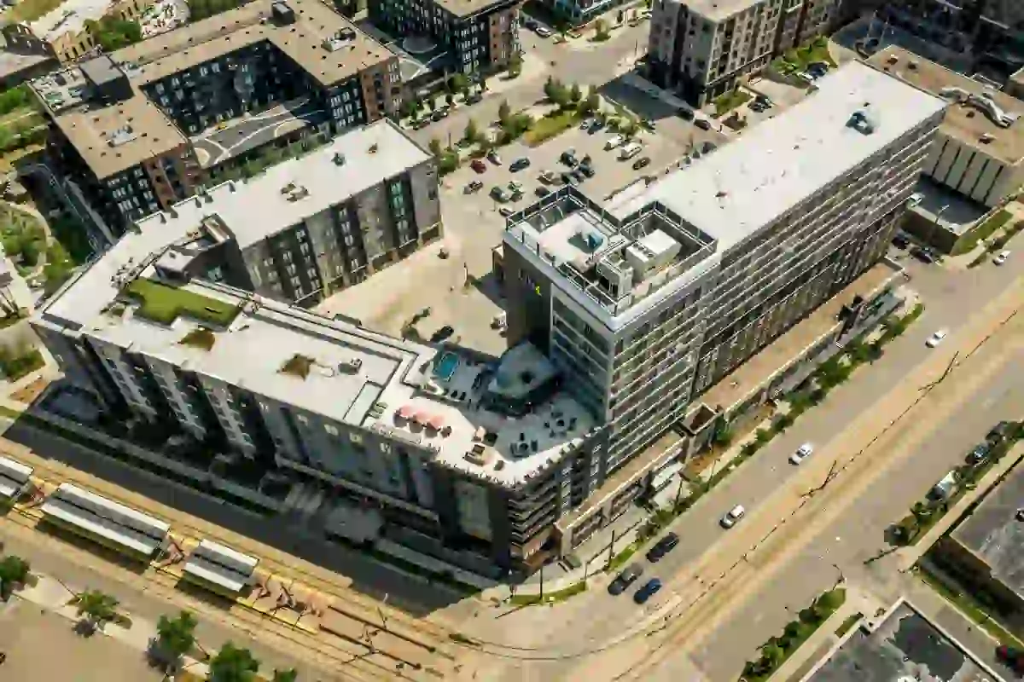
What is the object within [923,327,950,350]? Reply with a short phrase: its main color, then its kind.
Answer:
white car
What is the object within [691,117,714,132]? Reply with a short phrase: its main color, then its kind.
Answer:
gray car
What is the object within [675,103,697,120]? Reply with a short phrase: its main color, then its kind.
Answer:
black car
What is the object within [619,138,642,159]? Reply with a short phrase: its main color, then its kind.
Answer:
white vehicle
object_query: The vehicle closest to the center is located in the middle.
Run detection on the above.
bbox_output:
[486,305,507,334]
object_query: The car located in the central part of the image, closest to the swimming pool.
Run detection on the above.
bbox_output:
[430,321,456,346]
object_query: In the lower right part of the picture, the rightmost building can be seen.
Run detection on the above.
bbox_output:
[933,461,1024,616]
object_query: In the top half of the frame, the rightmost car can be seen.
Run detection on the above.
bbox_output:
[990,246,1013,266]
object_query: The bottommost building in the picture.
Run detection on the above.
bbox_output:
[823,599,1006,682]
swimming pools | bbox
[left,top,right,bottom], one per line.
[432,349,461,383]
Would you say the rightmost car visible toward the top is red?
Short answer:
No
